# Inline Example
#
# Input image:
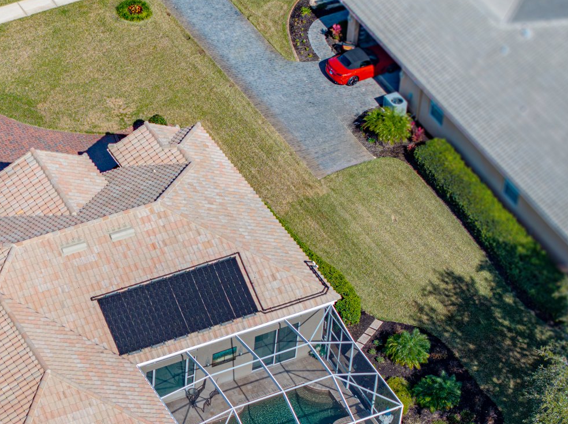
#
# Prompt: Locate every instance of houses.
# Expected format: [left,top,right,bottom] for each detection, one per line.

[341,0,568,289]
[0,115,341,424]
